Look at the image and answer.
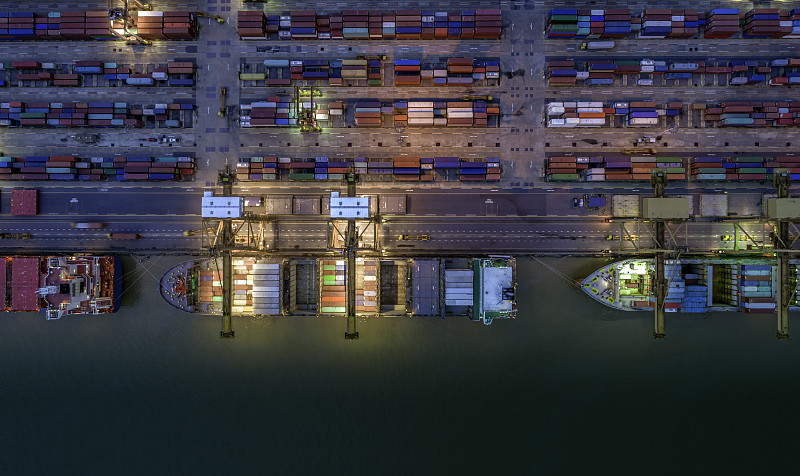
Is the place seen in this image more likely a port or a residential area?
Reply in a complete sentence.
What you see here is a port.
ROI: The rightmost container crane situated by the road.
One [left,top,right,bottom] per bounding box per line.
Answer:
[721,165,800,341]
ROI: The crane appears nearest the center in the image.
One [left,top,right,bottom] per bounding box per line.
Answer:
[325,164,384,341]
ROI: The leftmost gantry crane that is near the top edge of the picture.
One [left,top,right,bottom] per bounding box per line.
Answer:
[105,0,151,43]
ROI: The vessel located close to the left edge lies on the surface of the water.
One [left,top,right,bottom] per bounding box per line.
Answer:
[0,256,126,320]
